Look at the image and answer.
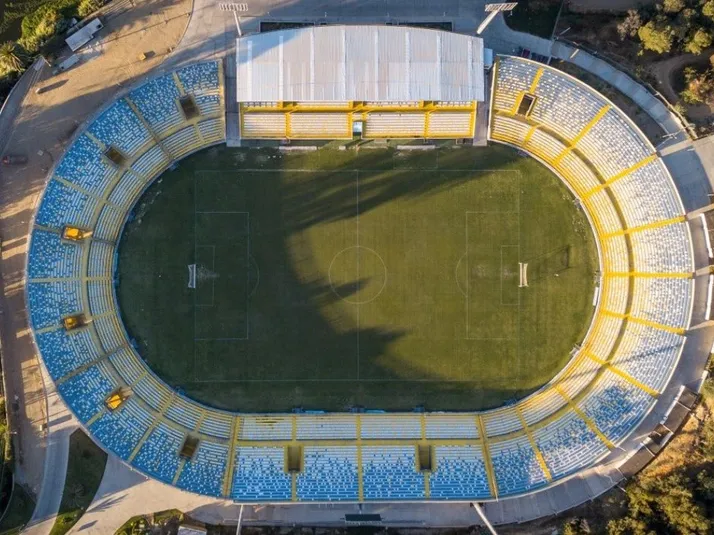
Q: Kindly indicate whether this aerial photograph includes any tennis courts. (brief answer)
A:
No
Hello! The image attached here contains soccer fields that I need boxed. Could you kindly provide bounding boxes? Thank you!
[116,130,600,413]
